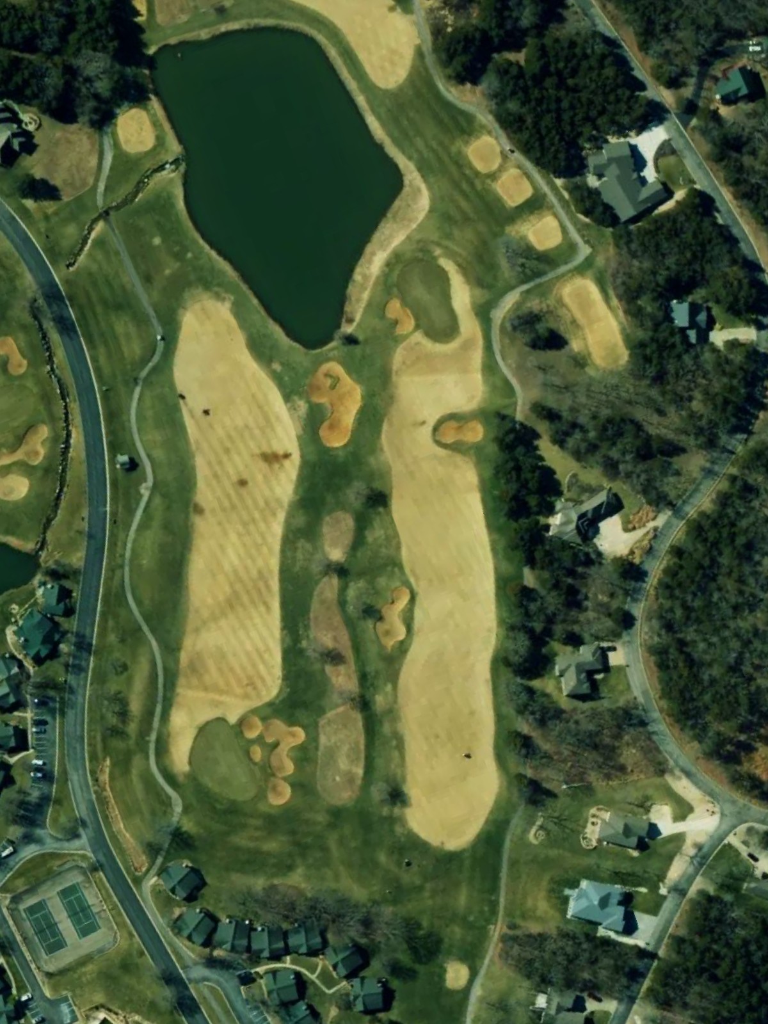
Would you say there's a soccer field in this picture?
No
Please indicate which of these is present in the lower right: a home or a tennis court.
home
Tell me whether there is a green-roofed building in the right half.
Yes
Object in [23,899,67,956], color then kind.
green tennis court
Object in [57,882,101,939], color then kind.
green tennis court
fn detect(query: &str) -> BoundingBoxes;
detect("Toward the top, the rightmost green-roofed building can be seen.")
[717,64,758,105]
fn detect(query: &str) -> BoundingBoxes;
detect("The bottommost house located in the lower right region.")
[542,987,588,1024]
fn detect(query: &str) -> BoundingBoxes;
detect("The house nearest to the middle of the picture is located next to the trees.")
[553,487,619,547]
